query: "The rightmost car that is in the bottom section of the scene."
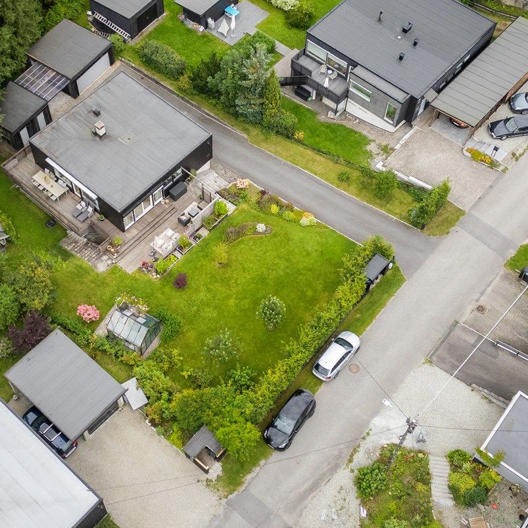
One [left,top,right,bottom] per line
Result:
[310,328,362,385]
